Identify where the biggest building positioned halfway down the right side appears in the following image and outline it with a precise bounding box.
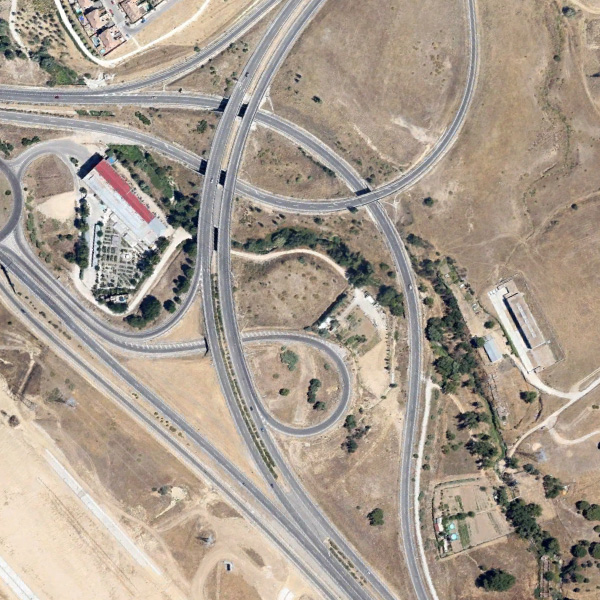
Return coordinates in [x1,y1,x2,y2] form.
[503,291,548,350]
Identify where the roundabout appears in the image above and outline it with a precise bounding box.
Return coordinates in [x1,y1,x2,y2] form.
[0,156,24,242]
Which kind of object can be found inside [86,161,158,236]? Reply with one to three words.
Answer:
building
